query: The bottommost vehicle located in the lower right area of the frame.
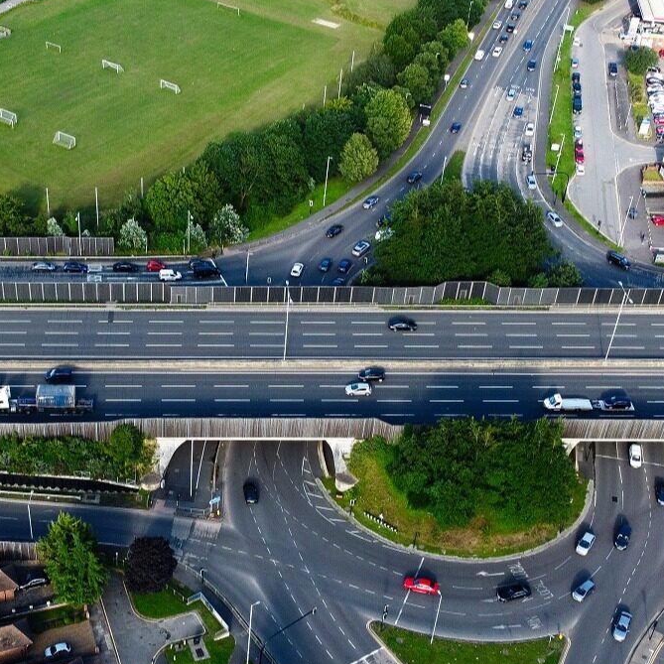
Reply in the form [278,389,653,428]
[613,611,631,639]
